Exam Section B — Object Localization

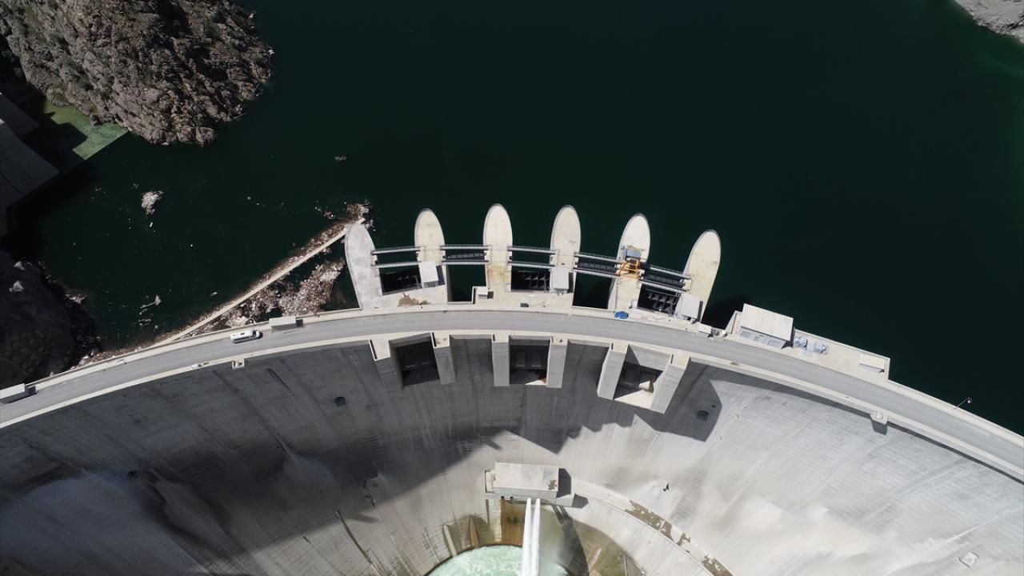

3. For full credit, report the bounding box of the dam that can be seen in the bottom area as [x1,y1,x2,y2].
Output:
[0,203,1024,576]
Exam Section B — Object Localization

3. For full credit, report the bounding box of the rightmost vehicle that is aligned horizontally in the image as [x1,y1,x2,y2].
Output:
[228,328,263,344]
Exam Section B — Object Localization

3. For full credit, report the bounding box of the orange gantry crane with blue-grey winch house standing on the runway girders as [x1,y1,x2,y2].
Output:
[617,245,645,284]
